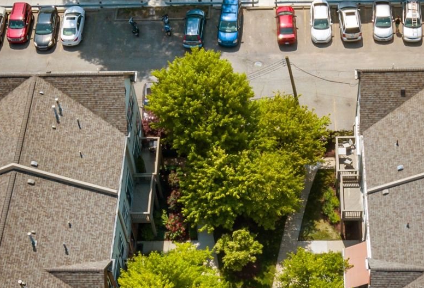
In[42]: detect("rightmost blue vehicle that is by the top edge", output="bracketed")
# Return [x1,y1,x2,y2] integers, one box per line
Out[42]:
[215,0,240,45]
